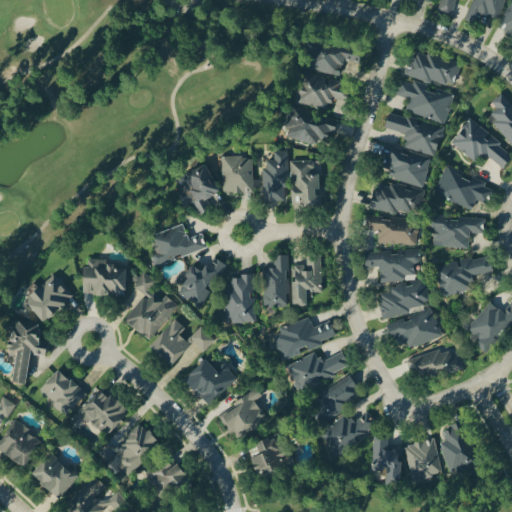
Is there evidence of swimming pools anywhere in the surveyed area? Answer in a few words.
Yes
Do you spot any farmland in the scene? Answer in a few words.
No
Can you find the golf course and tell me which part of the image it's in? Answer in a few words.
top left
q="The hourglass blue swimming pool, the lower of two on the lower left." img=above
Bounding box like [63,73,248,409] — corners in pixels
[58,445,82,466]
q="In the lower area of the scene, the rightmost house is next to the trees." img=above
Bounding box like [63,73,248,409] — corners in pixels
[469,300,512,352]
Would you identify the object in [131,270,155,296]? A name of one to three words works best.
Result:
building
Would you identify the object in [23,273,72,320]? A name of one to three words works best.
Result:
house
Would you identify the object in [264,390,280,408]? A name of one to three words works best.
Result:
swimming pool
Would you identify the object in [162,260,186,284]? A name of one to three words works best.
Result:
swimming pool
